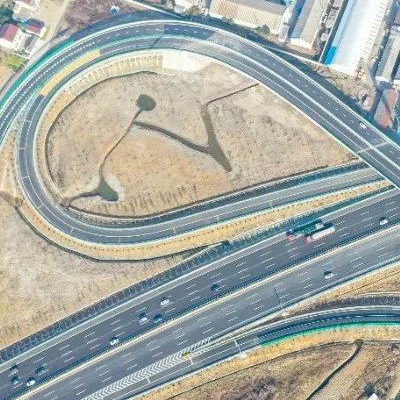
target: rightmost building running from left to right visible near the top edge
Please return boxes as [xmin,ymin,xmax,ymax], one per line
[212,0,288,35]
